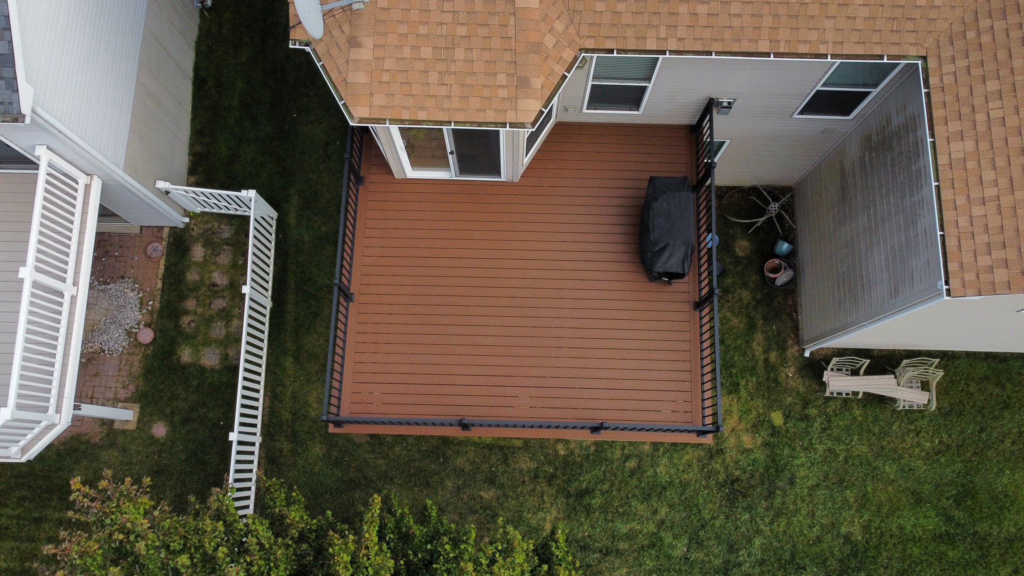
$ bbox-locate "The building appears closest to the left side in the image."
[0,0,199,232]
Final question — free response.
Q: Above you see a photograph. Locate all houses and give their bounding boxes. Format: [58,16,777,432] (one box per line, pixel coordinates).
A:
[286,0,1024,362]
[0,0,199,232]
